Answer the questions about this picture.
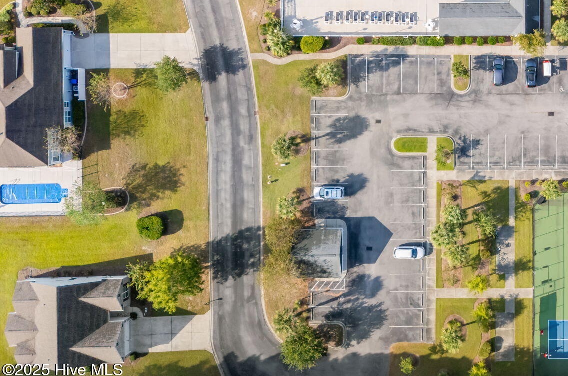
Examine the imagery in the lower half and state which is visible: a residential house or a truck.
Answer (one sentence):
The one visible in the lower half is a residential house.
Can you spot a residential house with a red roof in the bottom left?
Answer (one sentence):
No, there's no residential house with a red roof to be seen in the bottom left.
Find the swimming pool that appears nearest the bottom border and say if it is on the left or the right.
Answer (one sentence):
You can find the swimming pool that appears nearest the bottom border on the left side of the picture.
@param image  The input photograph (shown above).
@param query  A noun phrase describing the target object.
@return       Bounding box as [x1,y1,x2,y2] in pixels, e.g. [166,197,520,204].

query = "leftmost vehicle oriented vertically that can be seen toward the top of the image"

[492,58,506,86]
